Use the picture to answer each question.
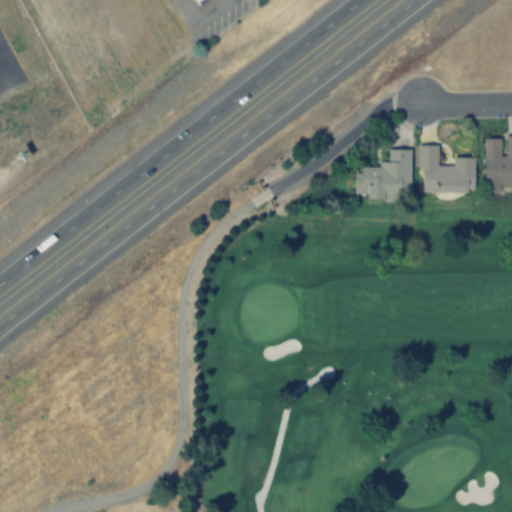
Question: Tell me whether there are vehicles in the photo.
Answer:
Yes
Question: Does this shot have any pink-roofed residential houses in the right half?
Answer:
No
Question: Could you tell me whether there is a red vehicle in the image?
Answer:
No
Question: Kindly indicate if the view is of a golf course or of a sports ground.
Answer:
golf course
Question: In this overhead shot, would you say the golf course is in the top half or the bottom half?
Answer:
bottom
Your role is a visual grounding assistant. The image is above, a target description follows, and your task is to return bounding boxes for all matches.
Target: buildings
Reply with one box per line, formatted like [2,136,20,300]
[420,144,478,192]
[357,149,414,202]
[486,136,512,192]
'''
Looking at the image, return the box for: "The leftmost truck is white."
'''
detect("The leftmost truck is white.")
[24,236,57,264]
